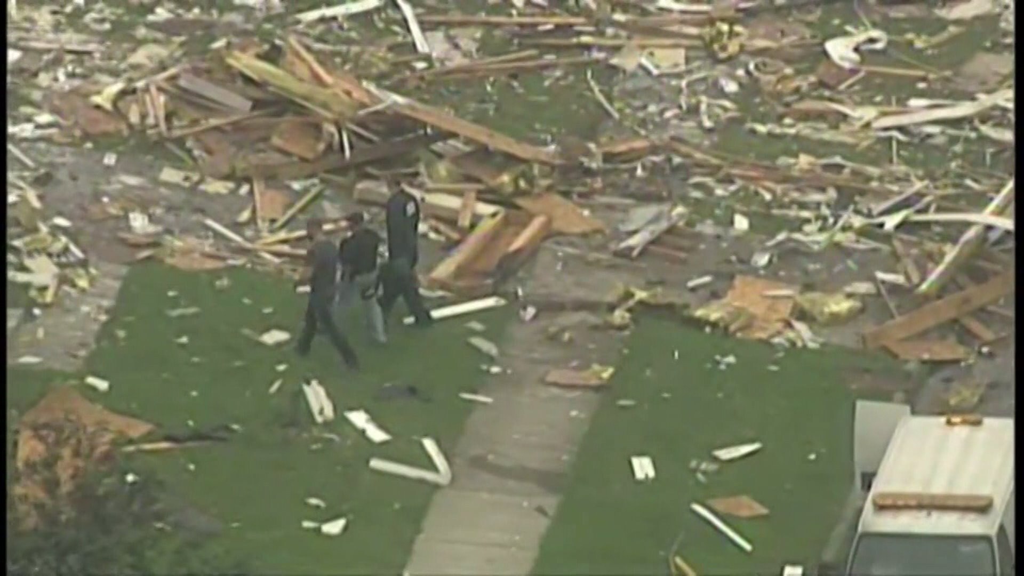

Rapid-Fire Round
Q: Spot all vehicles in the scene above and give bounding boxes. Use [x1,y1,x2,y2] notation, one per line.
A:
[835,400,1024,576]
